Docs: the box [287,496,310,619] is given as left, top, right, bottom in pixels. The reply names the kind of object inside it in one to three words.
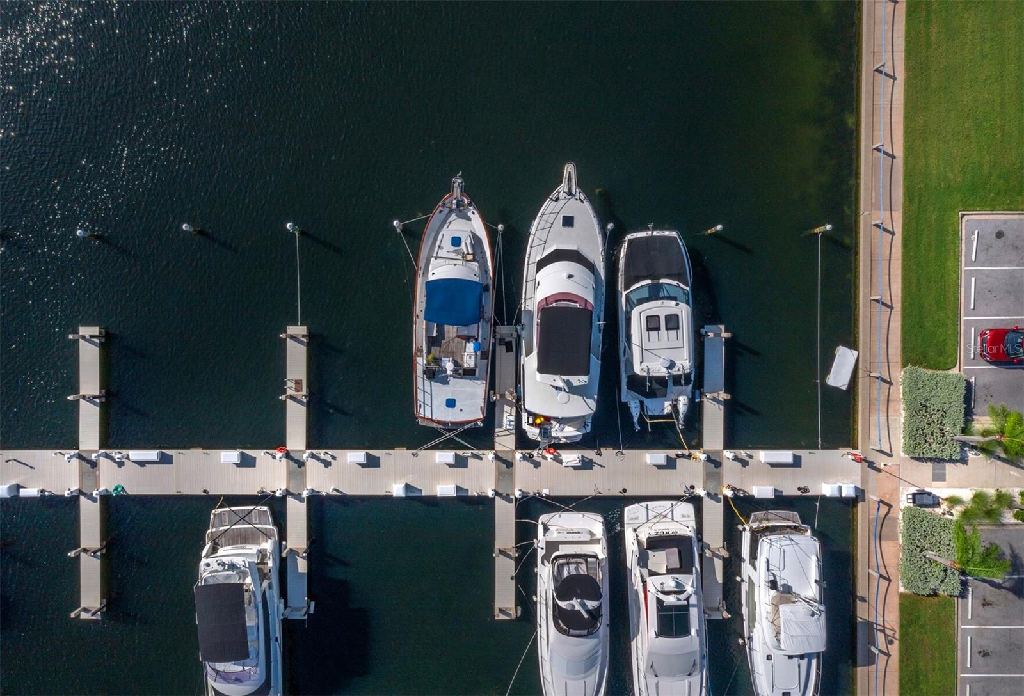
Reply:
pier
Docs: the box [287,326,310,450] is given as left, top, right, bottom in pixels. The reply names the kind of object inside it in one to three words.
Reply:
pier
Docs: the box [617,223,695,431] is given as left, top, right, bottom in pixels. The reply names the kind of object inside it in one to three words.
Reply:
boat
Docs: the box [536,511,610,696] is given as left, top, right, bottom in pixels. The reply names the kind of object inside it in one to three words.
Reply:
boat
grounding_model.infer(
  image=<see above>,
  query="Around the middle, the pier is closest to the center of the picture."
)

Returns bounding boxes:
[495,325,515,450]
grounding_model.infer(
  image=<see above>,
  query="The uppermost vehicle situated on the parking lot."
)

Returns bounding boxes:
[976,324,1024,366]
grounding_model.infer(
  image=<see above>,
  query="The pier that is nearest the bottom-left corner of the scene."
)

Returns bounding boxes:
[79,496,105,619]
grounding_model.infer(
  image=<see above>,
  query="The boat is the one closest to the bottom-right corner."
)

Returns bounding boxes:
[740,510,827,696]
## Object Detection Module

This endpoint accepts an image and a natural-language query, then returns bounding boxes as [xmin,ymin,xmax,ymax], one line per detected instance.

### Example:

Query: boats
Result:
[413,171,494,429]
[520,161,606,442]
[617,223,695,431]
[193,505,285,696]
[536,511,610,696]
[740,510,827,696]
[621,499,709,696]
